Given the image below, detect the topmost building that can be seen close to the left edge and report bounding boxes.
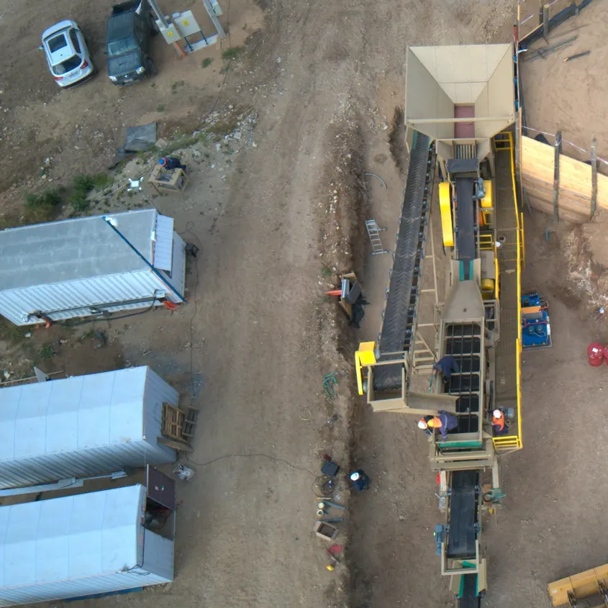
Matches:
[0,210,189,330]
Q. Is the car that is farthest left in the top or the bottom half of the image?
top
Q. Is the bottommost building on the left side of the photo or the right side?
left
